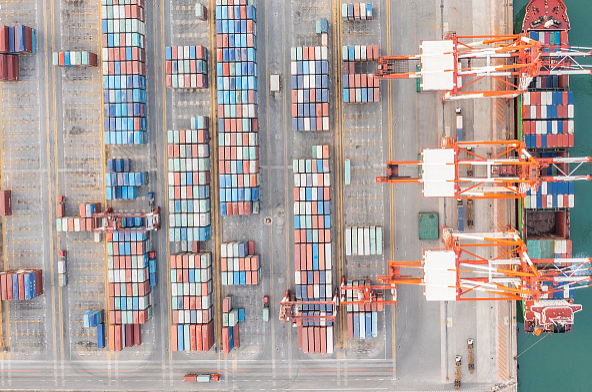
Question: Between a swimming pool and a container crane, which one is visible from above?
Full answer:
Of the two, only a container crane appears.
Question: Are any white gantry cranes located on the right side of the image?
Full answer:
Yes, the scene does show a white gantry crane on the right side of the image.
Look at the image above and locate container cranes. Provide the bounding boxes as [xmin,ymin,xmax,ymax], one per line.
[90,203,163,234]
[337,272,399,307]
[376,221,592,304]
[374,133,592,201]
[279,285,341,321]
[364,25,592,109]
